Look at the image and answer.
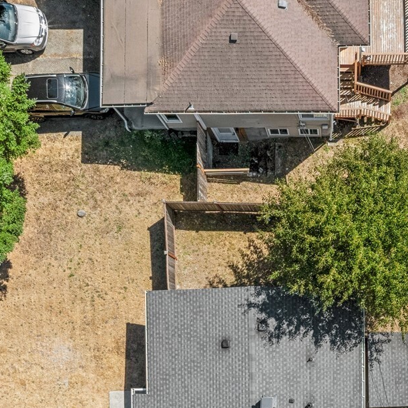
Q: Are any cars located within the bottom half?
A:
No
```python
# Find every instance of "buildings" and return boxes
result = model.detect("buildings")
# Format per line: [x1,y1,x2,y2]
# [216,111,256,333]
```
[99,0,373,149]
[130,288,368,408]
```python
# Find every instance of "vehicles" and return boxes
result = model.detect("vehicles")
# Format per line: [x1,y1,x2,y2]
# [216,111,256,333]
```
[0,0,52,52]
[17,68,118,123]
